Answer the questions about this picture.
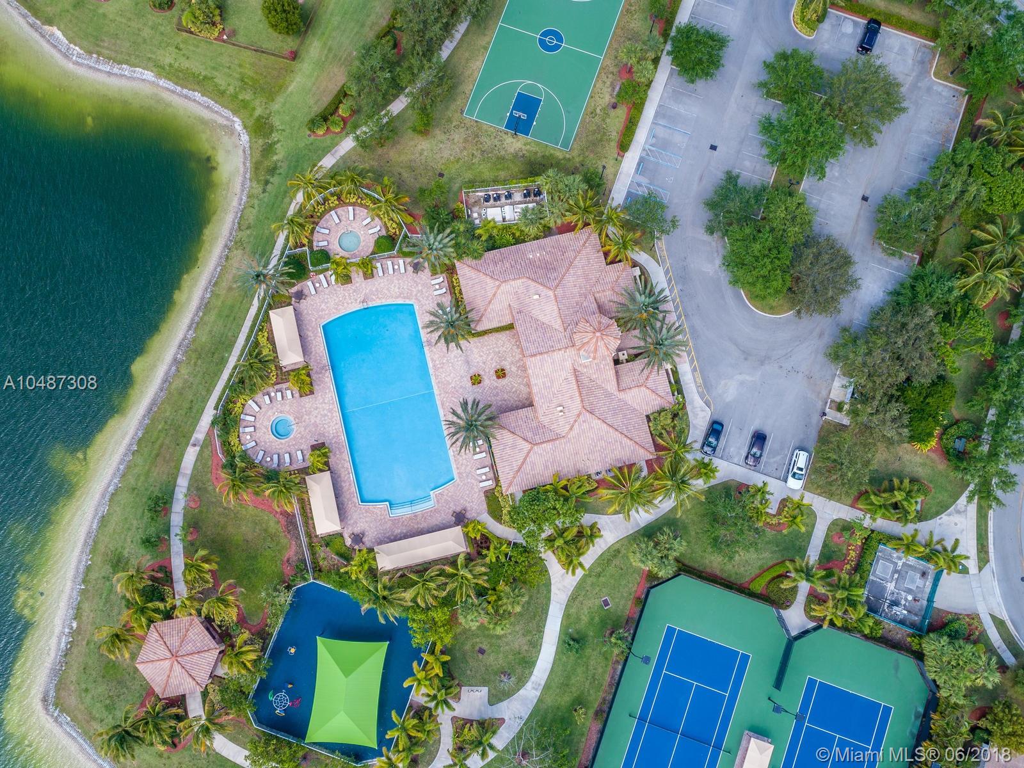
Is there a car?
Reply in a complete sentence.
Yes, the picture does show a car.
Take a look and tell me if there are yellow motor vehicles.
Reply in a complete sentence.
No, no yellow motor vehicle is visible in the view.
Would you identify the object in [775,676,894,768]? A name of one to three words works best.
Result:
tennis court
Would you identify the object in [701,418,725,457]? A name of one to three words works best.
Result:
car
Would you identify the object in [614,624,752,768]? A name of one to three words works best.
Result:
tennis court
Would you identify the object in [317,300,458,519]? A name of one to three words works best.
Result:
swimming pool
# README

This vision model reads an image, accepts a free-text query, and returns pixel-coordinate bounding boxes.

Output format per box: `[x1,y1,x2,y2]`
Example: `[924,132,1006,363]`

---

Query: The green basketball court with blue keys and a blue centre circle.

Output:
[464,0,625,153]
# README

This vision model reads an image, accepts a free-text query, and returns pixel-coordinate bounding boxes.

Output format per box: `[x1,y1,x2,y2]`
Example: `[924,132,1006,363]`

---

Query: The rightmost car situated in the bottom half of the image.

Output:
[784,448,811,490]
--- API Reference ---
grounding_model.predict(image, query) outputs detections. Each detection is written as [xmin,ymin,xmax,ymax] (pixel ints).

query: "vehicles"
[743,429,768,468]
[784,448,811,490]
[854,18,881,58]
[701,418,725,457]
